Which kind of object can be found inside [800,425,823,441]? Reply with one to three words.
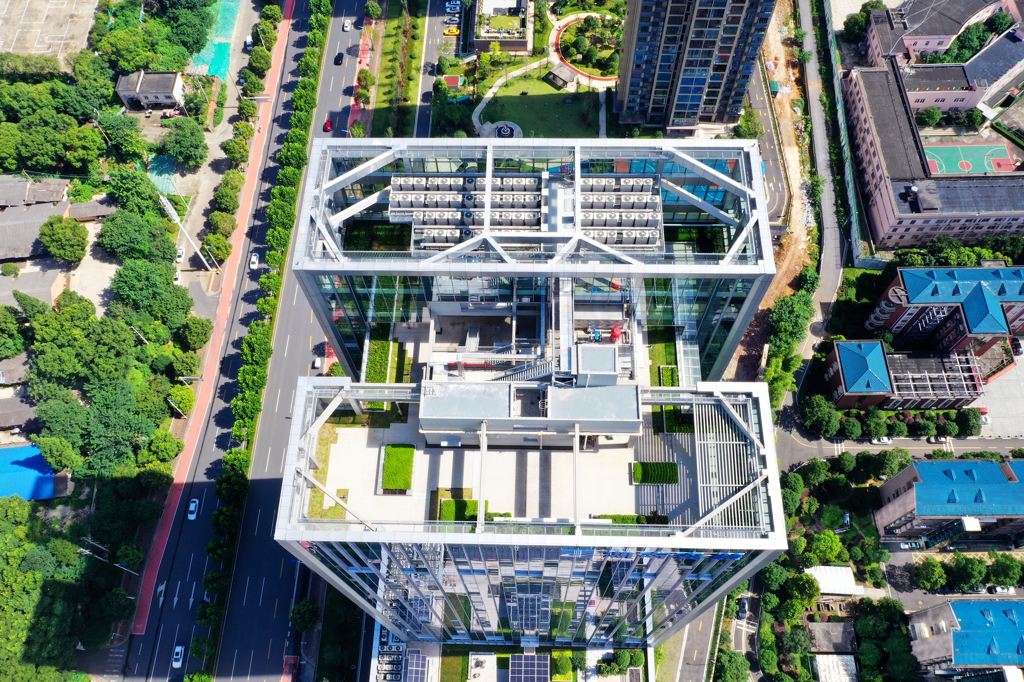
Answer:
car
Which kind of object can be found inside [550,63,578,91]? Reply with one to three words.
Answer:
building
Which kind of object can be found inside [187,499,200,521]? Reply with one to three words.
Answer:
vehicle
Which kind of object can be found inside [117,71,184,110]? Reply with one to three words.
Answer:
house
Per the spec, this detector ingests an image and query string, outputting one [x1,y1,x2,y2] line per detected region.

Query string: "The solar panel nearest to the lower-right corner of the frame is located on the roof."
[510,654,549,682]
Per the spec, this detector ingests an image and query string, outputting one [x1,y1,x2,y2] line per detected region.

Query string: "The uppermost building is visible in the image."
[475,0,531,55]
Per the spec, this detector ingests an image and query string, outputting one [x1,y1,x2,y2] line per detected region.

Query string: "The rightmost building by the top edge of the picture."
[842,0,1024,238]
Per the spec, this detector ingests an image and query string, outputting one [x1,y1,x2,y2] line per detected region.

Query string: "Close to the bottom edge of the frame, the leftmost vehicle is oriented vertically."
[171,644,185,670]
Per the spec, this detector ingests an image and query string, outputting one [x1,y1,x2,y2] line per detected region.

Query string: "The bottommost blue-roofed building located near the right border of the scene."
[909,598,1024,682]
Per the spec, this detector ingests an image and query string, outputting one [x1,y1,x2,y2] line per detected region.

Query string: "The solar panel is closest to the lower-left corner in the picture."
[407,654,428,682]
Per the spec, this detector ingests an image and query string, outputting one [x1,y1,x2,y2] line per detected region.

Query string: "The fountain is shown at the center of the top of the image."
[495,122,516,139]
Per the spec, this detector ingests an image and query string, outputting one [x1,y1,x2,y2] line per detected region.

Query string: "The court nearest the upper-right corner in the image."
[921,142,1021,175]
